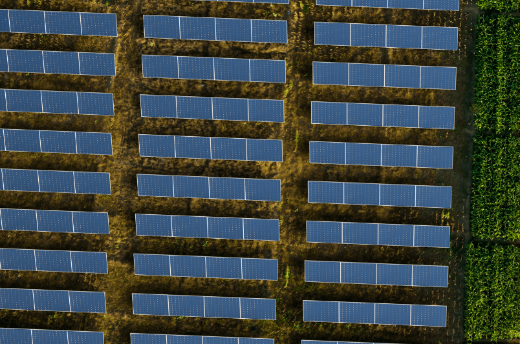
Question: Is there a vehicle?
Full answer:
No, the scene contains no vehicle.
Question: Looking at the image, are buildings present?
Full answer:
No, there appears to be no building in this shot.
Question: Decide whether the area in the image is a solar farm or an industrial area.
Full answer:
The area seen from above is a solar farm.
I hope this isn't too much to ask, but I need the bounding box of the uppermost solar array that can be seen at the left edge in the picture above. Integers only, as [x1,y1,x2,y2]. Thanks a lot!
[0,9,118,37]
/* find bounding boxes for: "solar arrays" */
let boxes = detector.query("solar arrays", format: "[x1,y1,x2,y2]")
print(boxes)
[135,215,280,242]
[0,49,116,77]
[139,135,283,162]
[310,142,453,169]
[312,102,455,130]
[315,22,458,51]
[307,222,450,249]
[143,15,288,44]
[313,63,457,91]
[134,254,279,281]
[0,249,108,274]
[140,95,285,123]
[132,295,277,322]
[0,90,115,116]
[0,129,113,155]
[309,182,452,210]
[142,55,287,84]
[130,334,275,344]
[0,209,110,235]
[0,289,107,314]
[0,169,112,196]
[305,261,449,289]
[137,175,282,203]
[0,329,104,344]
[304,302,447,328]
[317,0,460,11]
[0,9,118,37]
